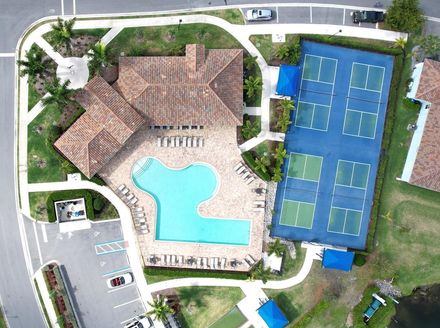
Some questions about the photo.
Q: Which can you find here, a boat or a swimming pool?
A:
swimming pool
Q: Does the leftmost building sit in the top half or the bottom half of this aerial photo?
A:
top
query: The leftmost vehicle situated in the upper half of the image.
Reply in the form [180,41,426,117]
[246,9,272,22]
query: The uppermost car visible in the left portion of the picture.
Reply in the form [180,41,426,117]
[107,272,134,287]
